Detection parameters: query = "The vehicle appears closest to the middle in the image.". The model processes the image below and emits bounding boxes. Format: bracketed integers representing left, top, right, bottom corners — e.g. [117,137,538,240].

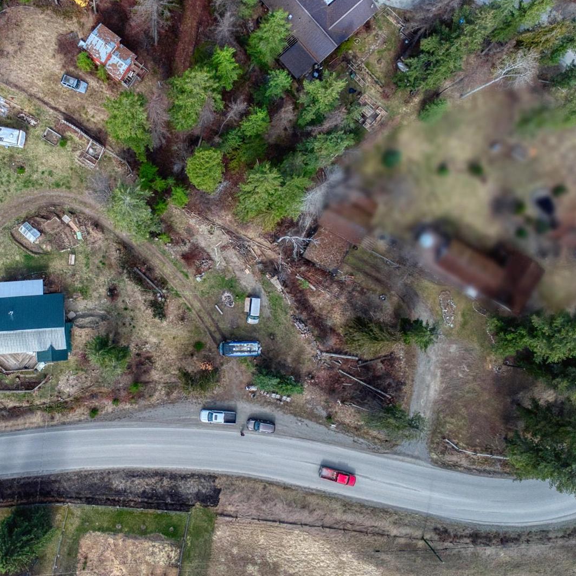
[245,295,260,324]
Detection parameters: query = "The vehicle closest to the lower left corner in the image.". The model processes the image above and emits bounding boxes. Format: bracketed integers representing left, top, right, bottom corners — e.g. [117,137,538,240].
[198,408,236,425]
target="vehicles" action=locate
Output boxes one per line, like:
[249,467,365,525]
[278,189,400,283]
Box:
[0,127,27,150]
[198,408,236,425]
[245,418,275,433]
[60,75,88,94]
[245,295,260,324]
[317,465,355,486]
[218,339,262,357]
